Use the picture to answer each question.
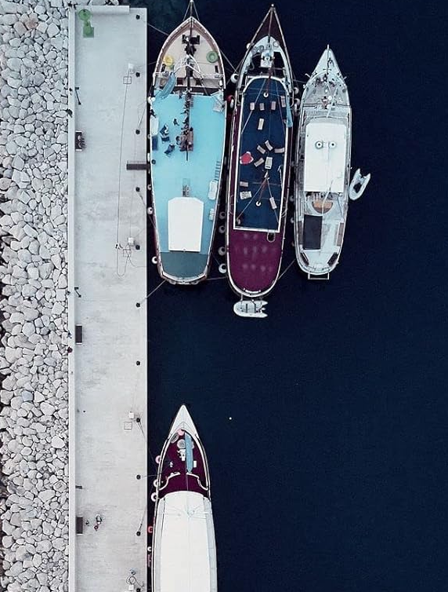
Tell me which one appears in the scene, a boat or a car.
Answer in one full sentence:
I can see a boat in this picture.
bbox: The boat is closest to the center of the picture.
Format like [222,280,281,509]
[233,300,268,317]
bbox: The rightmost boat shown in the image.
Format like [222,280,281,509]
[350,168,373,200]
